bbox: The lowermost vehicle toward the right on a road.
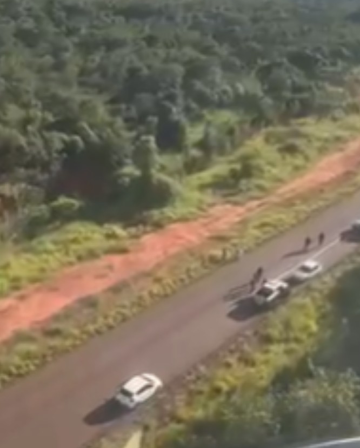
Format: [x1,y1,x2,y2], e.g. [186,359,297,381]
[250,274,293,305]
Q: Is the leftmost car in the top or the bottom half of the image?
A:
bottom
